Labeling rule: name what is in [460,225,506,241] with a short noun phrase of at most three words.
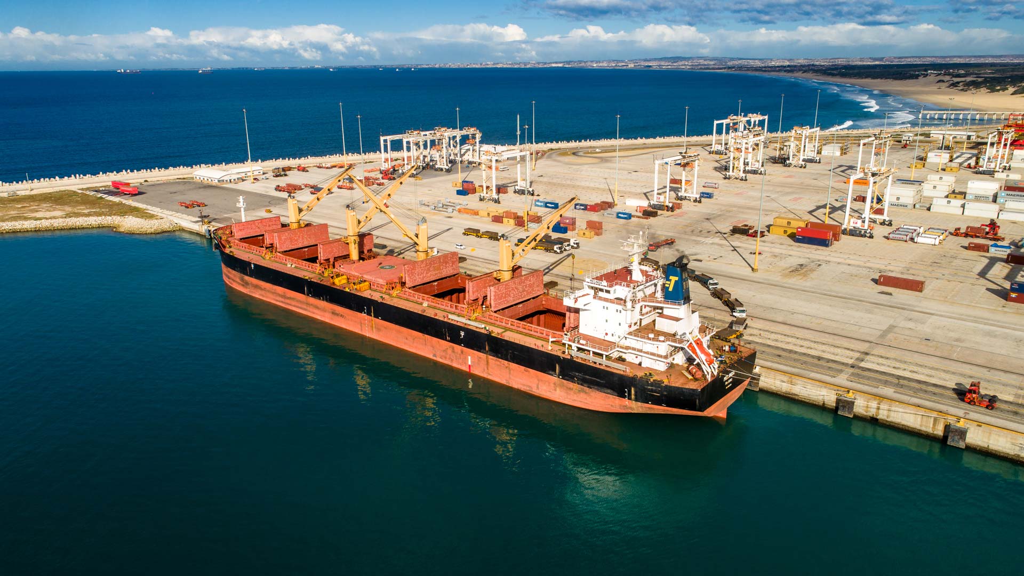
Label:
vehicle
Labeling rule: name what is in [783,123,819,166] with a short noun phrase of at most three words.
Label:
container crane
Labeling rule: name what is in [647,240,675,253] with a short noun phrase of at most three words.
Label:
vehicle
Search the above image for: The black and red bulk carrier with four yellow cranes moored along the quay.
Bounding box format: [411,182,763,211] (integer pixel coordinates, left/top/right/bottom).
[210,163,760,421]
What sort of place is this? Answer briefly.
port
